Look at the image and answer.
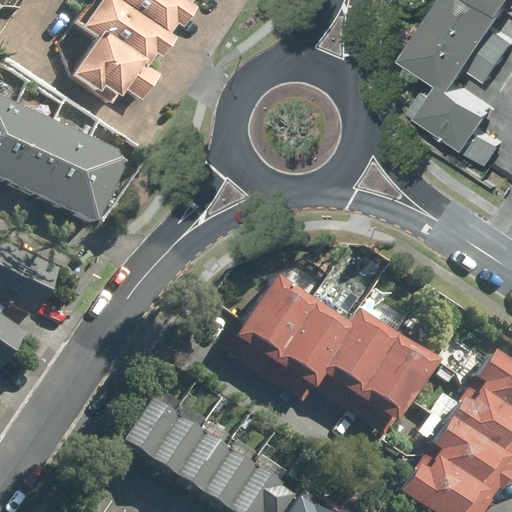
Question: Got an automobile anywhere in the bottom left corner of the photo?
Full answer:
Yes, you'll find an automobile in the bottom left corner of the photo.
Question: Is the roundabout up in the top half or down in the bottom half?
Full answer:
It is in the top half that the roundabout appears.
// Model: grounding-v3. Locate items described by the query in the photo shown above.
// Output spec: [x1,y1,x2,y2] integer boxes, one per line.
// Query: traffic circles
[248,82,341,175]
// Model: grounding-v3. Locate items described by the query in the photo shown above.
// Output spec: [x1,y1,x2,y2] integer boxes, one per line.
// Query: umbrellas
[453,350,464,361]
[36,103,50,116]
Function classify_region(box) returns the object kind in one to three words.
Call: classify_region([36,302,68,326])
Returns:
truck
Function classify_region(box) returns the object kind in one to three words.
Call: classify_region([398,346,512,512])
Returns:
building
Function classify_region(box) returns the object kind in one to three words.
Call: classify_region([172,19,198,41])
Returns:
car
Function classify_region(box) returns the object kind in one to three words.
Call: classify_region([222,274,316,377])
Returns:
house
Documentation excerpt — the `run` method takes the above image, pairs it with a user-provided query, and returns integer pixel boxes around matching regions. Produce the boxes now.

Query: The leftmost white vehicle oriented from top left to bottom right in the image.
[448,248,476,272]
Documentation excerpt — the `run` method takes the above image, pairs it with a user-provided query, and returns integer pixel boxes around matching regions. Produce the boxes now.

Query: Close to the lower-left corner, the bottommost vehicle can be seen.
[2,488,26,512]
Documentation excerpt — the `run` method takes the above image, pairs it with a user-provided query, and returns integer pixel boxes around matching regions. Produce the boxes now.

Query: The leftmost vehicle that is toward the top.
[46,12,70,38]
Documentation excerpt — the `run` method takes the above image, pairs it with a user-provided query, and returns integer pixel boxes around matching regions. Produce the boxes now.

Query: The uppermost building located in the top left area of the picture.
[74,0,198,103]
